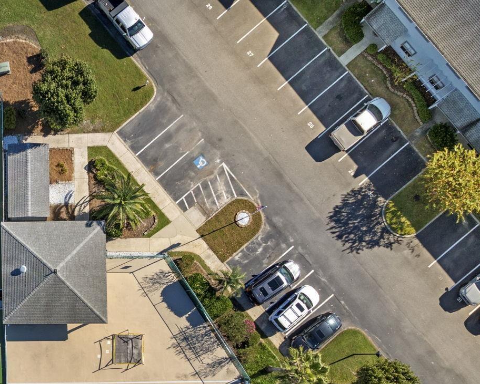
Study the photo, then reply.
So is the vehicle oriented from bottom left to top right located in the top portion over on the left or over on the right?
right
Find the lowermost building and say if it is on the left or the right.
left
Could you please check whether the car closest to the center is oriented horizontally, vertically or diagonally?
diagonally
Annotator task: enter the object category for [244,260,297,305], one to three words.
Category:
car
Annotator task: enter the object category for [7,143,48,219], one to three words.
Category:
shed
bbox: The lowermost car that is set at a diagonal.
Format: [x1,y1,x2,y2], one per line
[289,309,342,353]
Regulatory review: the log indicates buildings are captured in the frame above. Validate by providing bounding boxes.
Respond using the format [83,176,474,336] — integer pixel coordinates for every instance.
[7,143,48,219]
[356,0,480,162]
[1,220,107,324]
